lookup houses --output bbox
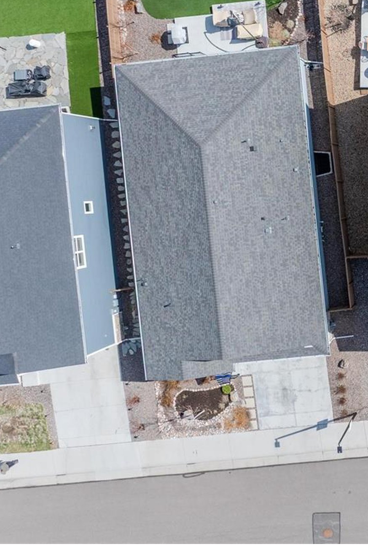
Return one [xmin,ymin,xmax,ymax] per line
[113,45,354,381]
[0,103,135,386]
